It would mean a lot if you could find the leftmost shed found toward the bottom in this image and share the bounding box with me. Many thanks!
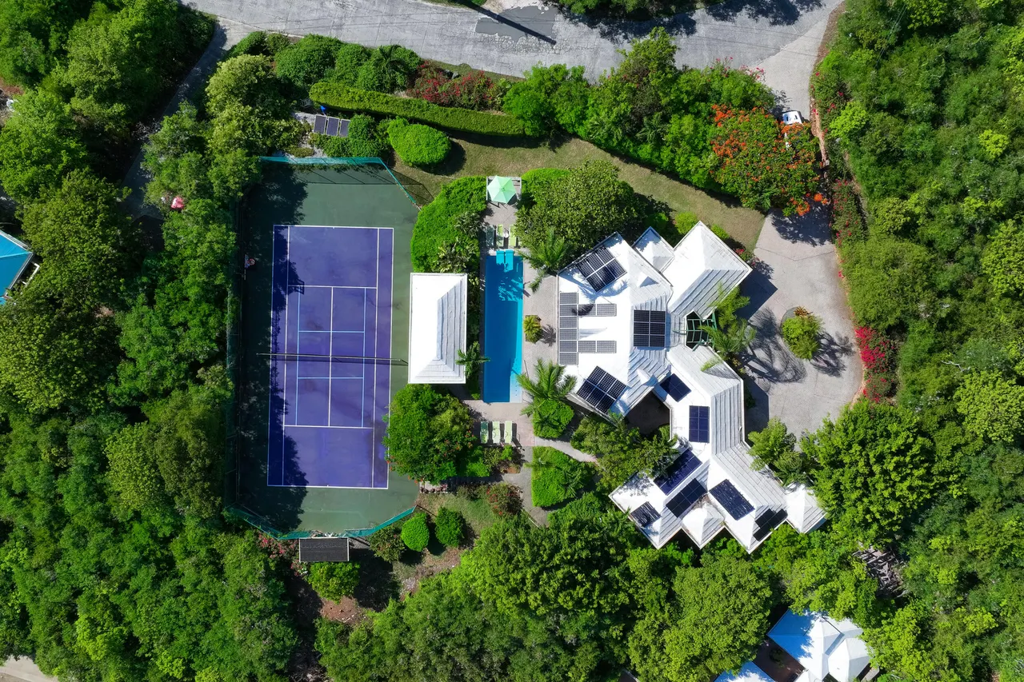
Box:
[298,532,354,563]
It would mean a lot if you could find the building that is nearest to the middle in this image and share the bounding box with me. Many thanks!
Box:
[407,272,469,385]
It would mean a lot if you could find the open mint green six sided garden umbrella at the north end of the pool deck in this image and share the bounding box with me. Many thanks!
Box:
[489,171,517,201]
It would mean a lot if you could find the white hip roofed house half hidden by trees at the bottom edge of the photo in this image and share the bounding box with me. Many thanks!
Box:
[761,602,871,682]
